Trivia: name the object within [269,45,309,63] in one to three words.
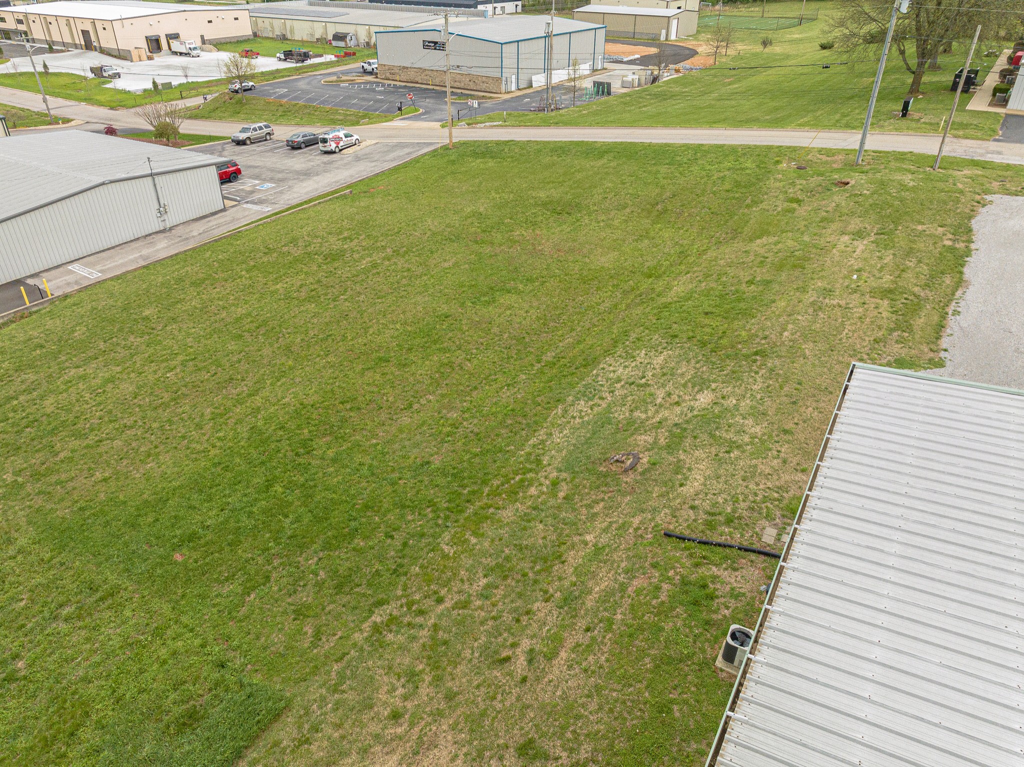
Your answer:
vehicle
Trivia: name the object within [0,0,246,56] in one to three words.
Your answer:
building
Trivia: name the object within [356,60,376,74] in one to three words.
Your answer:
vehicle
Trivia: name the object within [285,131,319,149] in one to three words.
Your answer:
car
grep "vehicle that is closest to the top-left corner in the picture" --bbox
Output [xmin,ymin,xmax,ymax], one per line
[86,60,124,79]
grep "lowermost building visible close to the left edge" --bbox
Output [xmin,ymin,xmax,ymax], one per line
[0,133,238,286]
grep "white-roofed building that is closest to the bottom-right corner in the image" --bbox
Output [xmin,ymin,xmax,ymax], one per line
[698,359,1024,767]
